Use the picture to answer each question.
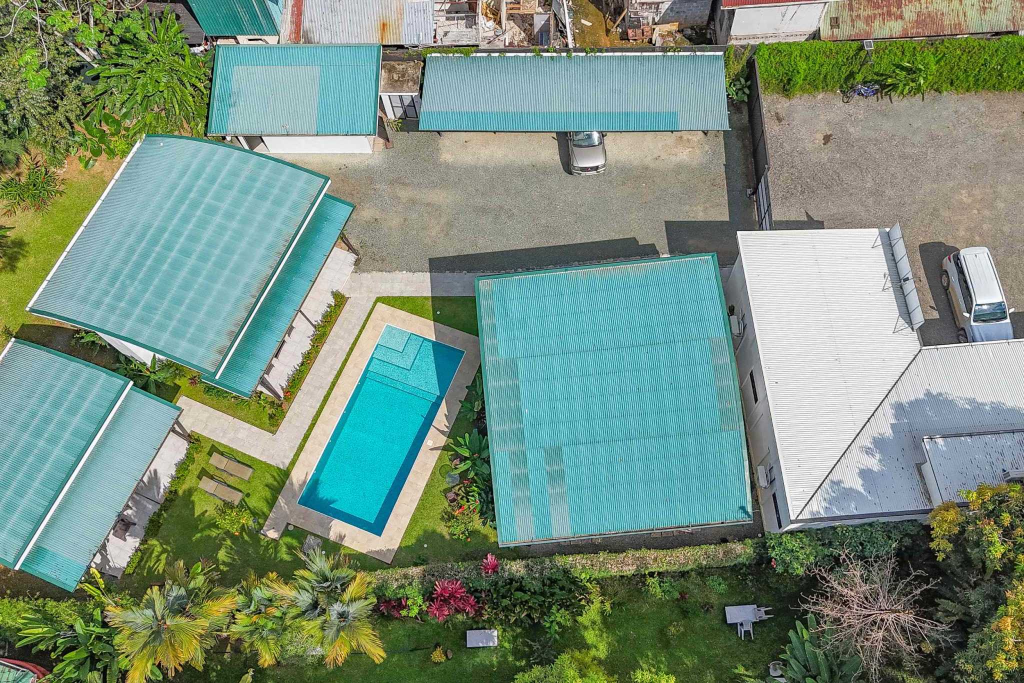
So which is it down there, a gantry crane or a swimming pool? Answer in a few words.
swimming pool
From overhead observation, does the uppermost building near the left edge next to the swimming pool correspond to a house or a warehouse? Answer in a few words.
house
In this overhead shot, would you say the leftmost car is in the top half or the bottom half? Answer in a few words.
top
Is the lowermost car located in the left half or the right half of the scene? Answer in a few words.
right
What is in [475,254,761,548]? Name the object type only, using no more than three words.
building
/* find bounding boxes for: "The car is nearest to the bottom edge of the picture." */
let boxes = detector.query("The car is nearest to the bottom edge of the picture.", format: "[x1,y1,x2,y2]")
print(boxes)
[939,247,1021,344]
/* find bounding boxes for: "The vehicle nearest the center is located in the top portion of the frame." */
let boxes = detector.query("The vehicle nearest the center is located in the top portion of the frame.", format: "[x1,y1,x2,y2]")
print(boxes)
[564,133,612,176]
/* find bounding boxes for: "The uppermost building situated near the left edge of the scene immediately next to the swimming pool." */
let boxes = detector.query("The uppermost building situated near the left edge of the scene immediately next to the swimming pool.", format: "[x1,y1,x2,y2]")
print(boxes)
[25,134,359,399]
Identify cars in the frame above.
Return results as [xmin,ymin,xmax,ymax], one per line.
[564,133,612,176]
[939,247,1021,344]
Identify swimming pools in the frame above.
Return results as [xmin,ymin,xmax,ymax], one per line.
[295,323,467,539]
